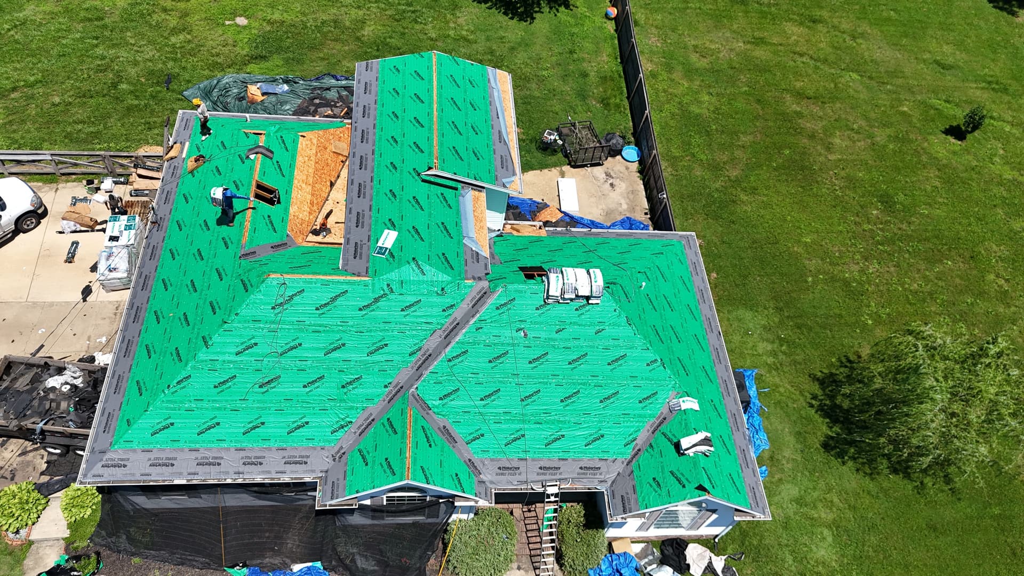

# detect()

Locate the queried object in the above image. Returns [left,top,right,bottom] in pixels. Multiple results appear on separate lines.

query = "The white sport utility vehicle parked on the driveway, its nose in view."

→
[0,185,49,238]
